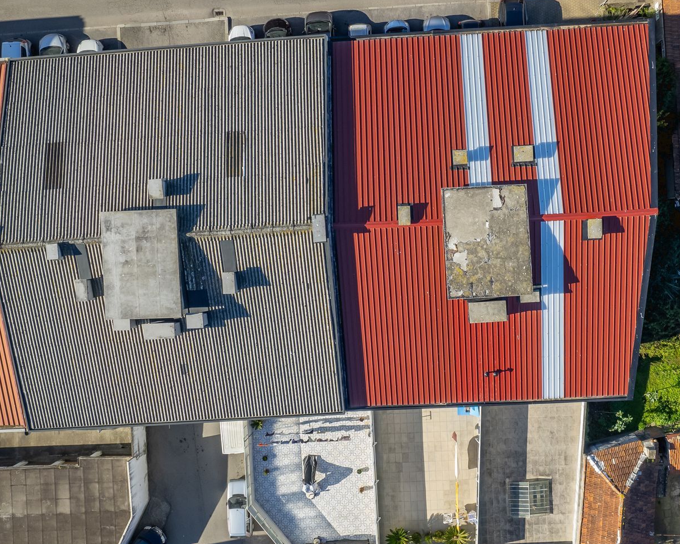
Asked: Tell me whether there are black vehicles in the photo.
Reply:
Yes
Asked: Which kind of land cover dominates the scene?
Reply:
buildings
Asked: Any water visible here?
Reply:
No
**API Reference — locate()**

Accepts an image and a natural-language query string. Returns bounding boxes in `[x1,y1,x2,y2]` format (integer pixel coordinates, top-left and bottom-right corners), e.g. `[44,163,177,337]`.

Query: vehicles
[298,6,334,33]
[226,22,254,39]
[349,19,371,34]
[75,38,103,51]
[222,482,250,544]
[0,37,29,60]
[424,14,450,29]
[30,33,68,55]
[498,0,528,25]
[257,14,291,36]
[384,13,409,32]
